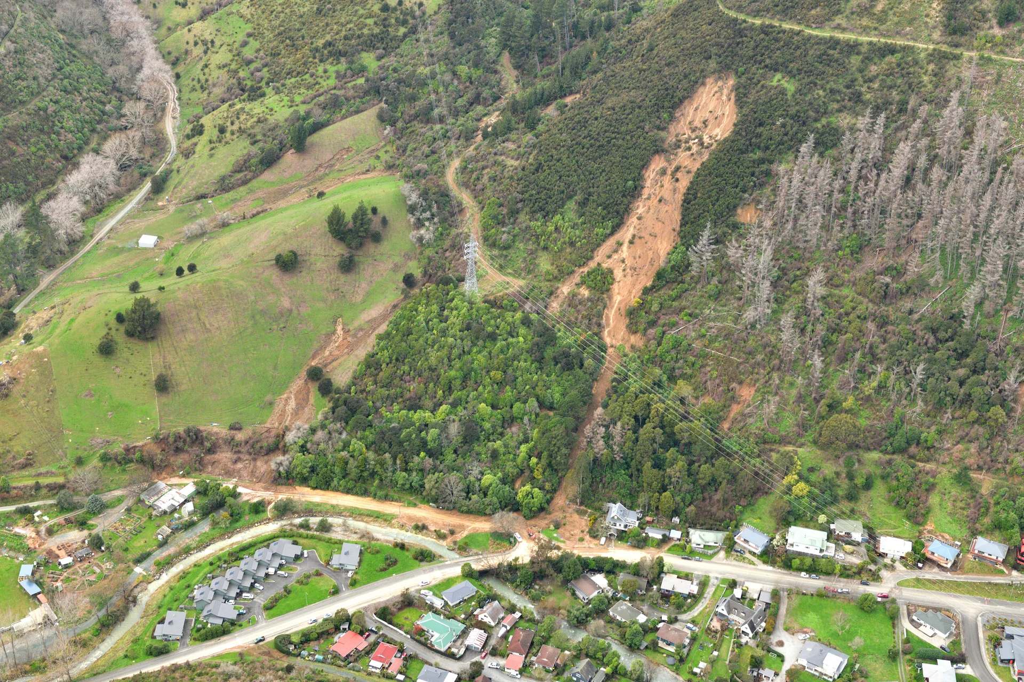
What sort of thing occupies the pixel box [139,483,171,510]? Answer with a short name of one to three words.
shed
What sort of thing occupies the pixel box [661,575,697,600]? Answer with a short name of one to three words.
house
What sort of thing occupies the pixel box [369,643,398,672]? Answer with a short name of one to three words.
house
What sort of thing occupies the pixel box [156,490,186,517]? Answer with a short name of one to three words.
building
